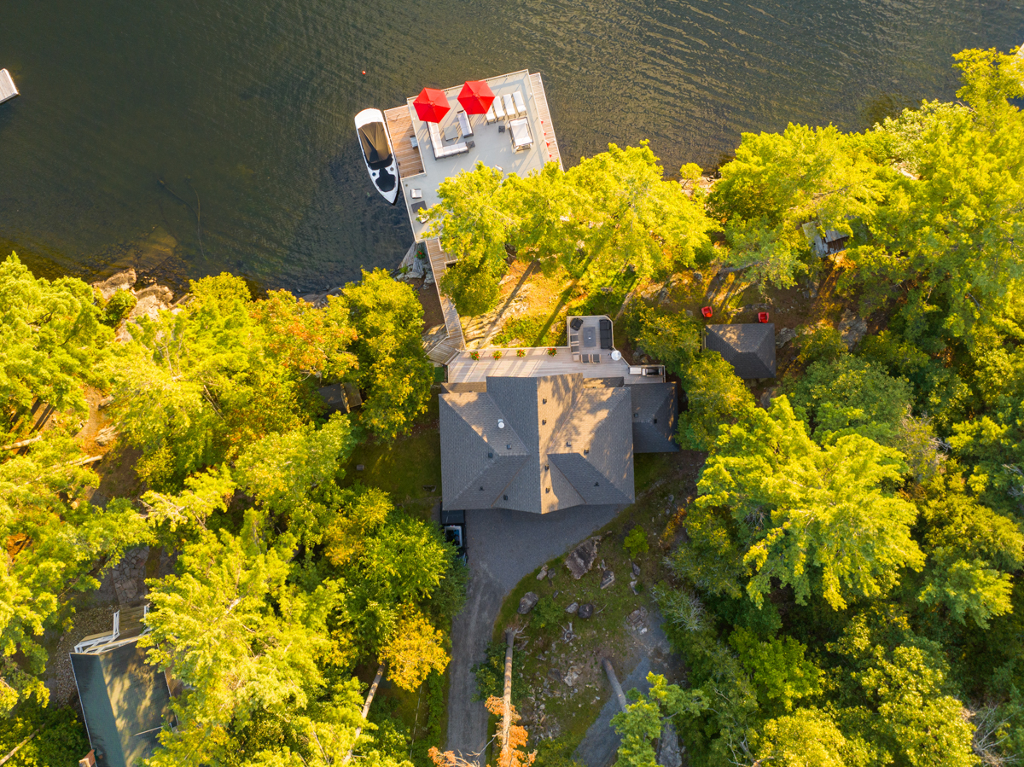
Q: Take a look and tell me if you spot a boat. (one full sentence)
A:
Yes, the image includes a boat.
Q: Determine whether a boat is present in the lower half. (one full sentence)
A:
No, no boat can be made out in the lower half.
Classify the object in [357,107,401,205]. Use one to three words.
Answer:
boat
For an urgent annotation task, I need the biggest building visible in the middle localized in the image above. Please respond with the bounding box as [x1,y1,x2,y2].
[438,374,635,517]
